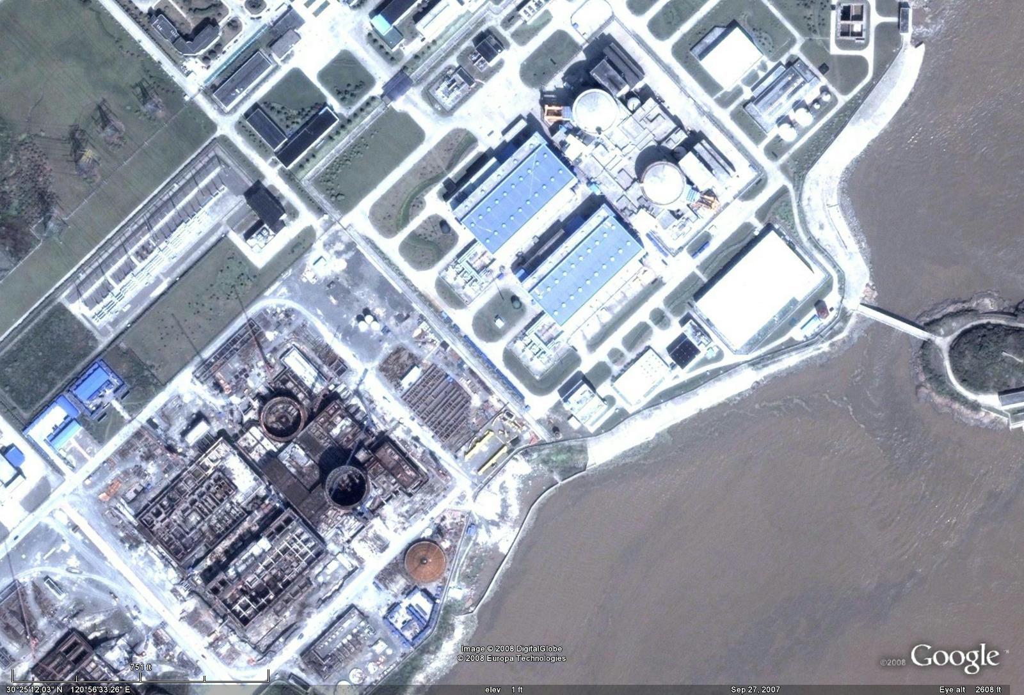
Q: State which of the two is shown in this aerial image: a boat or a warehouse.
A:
warehouse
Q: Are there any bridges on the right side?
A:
Yes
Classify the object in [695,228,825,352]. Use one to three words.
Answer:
warehouse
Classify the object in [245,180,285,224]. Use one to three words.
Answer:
house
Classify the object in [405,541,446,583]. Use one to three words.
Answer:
storage tank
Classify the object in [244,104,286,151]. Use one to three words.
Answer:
building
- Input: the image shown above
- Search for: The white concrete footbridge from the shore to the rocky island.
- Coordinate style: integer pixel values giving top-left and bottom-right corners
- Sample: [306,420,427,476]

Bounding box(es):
[856,302,935,342]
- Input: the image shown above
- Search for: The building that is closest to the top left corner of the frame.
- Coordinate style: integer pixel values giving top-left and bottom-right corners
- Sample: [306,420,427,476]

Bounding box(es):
[152,15,180,45]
